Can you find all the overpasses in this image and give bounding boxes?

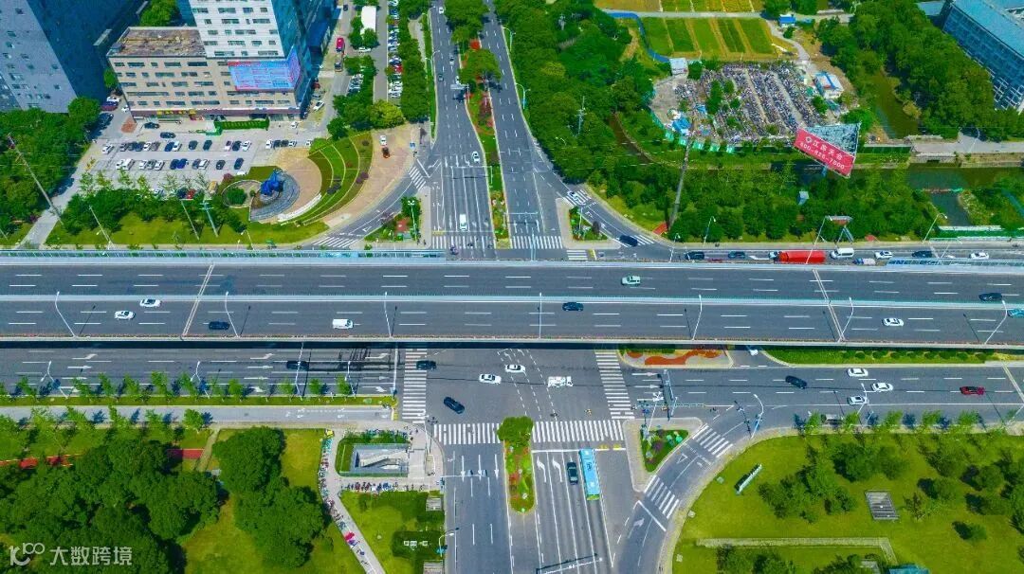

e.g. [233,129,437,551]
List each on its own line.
[0,251,1024,347]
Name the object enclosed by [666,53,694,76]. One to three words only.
shed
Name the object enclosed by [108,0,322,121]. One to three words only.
building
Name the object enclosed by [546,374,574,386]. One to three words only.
vehicle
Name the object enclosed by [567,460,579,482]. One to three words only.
vehicle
